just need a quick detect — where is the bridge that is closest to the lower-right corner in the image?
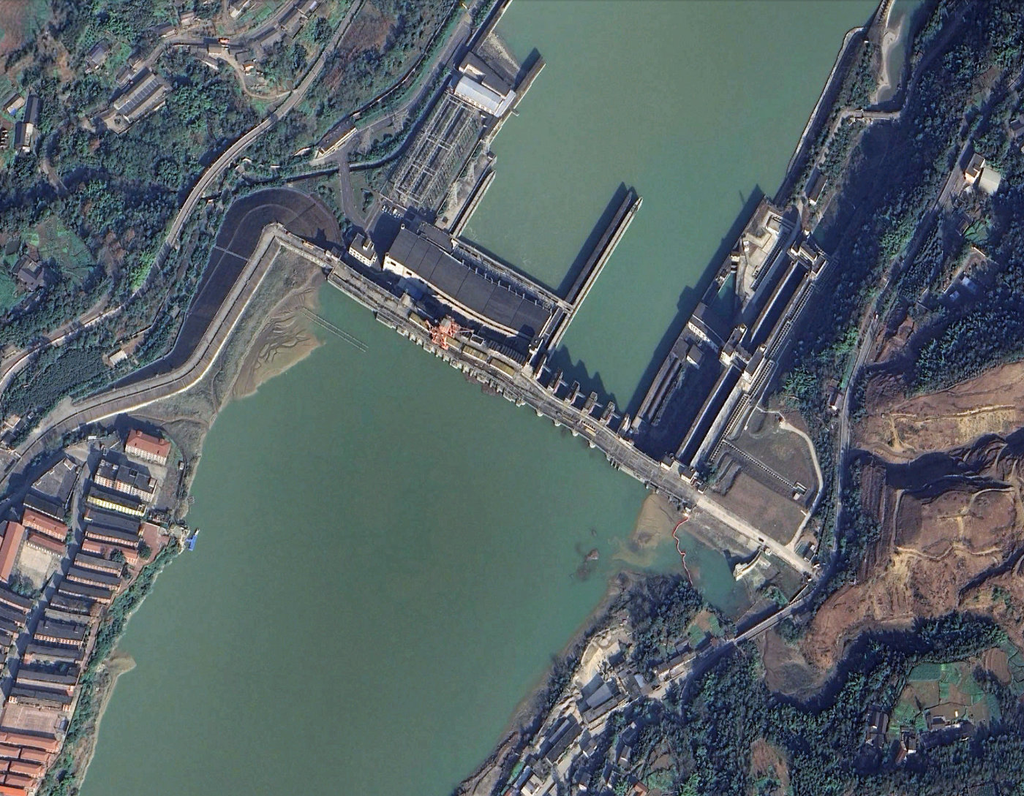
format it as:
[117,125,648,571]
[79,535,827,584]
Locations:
[727,591,813,647]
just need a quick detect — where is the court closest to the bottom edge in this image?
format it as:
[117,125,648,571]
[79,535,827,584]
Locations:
[1,704,58,733]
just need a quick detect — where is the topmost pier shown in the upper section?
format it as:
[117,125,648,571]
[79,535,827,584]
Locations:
[510,56,546,117]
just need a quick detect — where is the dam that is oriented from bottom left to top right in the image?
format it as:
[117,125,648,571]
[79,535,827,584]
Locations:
[0,188,344,497]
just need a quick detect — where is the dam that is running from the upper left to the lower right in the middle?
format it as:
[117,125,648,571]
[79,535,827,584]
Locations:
[326,250,720,517]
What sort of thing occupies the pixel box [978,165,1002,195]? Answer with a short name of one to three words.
building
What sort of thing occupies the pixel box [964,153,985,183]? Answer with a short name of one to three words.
house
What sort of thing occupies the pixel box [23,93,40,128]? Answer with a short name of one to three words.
barn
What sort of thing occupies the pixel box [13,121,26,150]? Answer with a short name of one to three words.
barn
